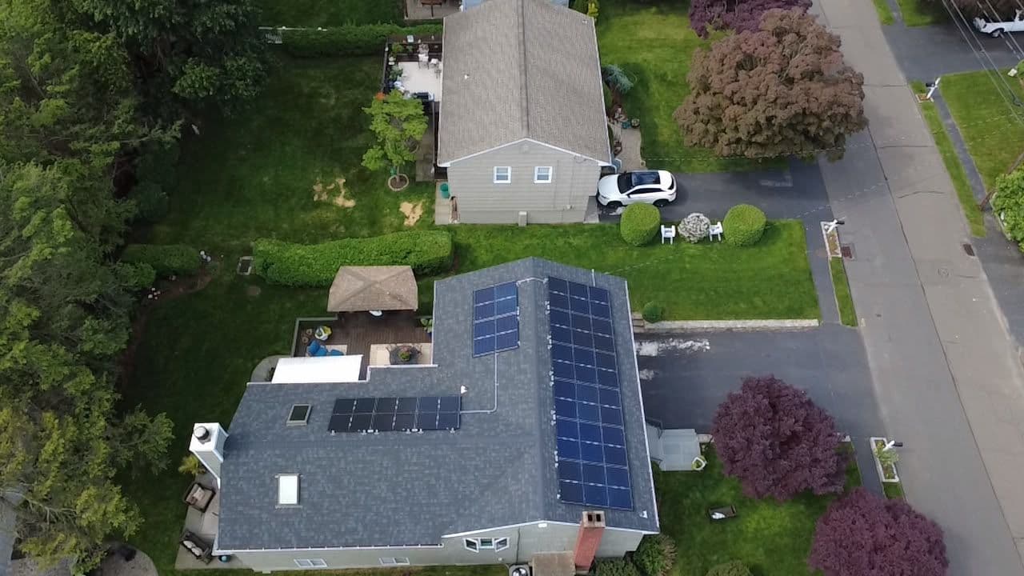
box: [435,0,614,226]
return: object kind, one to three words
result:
house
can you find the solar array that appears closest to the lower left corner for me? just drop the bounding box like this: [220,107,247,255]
[329,395,462,435]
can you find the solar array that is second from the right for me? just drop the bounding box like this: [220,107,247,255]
[471,279,523,354]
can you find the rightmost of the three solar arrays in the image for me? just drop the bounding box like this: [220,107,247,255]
[545,276,635,509]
